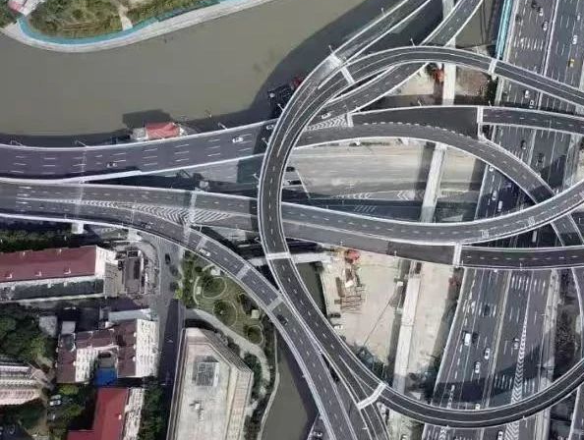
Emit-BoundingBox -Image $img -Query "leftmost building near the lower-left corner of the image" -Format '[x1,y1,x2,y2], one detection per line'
[0,364,47,401]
